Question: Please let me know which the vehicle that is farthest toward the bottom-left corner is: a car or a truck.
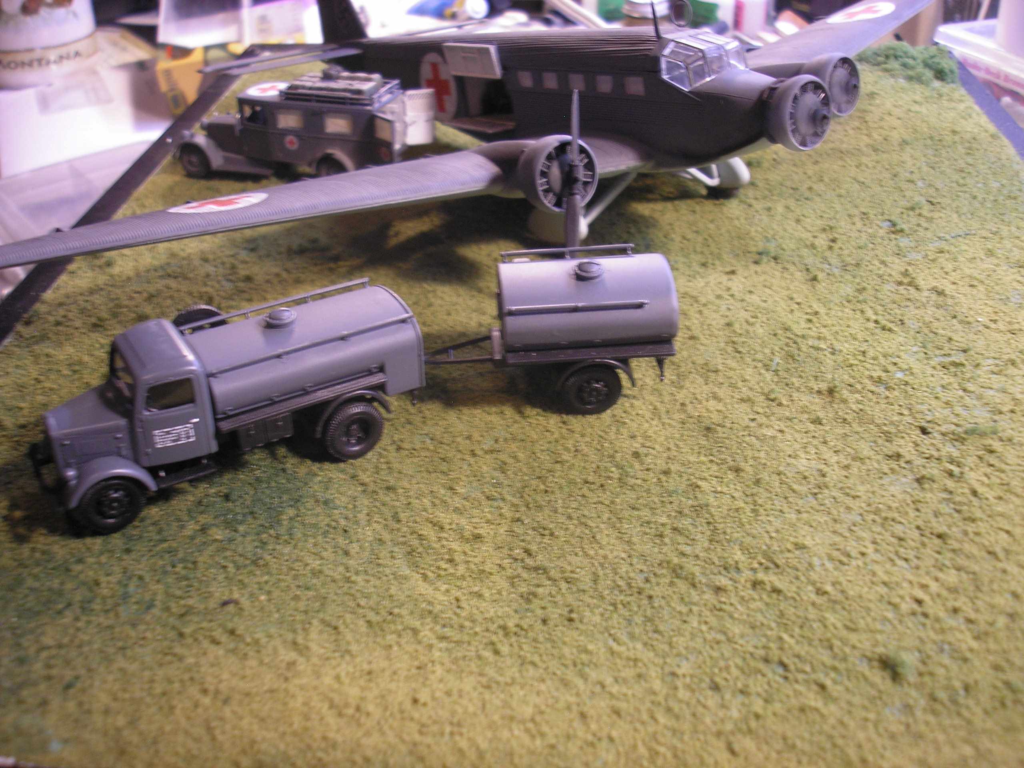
truck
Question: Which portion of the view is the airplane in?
top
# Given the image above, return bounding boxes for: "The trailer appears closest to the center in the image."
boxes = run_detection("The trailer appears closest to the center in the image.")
[423,245,679,414]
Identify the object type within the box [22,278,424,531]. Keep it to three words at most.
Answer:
truck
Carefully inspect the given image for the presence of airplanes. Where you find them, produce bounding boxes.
[0,0,940,271]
